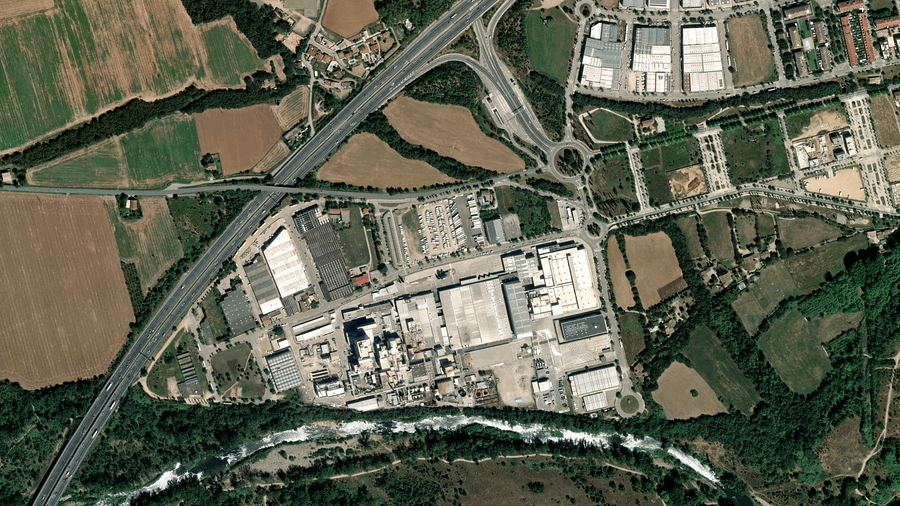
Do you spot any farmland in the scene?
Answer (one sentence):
Yes, there is farmland in the image.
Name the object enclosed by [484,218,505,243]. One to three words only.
building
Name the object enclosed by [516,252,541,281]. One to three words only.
building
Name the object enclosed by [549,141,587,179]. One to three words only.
roundabout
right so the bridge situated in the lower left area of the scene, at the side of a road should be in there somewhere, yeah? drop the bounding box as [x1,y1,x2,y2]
[33,378,127,506]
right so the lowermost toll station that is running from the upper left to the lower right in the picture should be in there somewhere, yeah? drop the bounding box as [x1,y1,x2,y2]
[484,69,545,142]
